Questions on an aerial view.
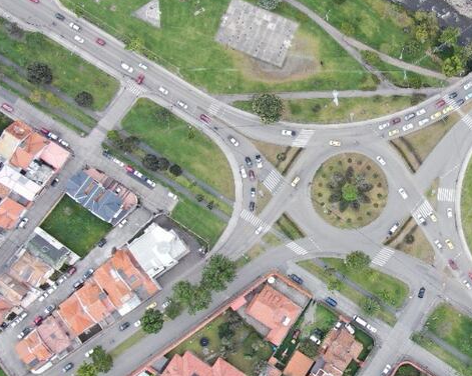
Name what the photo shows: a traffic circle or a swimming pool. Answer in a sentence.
I can see a traffic circle in this picture.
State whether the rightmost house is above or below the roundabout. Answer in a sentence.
From this view, the rightmost house can be seen below the roundabout.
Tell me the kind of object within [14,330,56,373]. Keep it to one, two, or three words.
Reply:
house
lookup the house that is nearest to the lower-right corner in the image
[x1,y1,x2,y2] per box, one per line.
[311,327,363,376]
